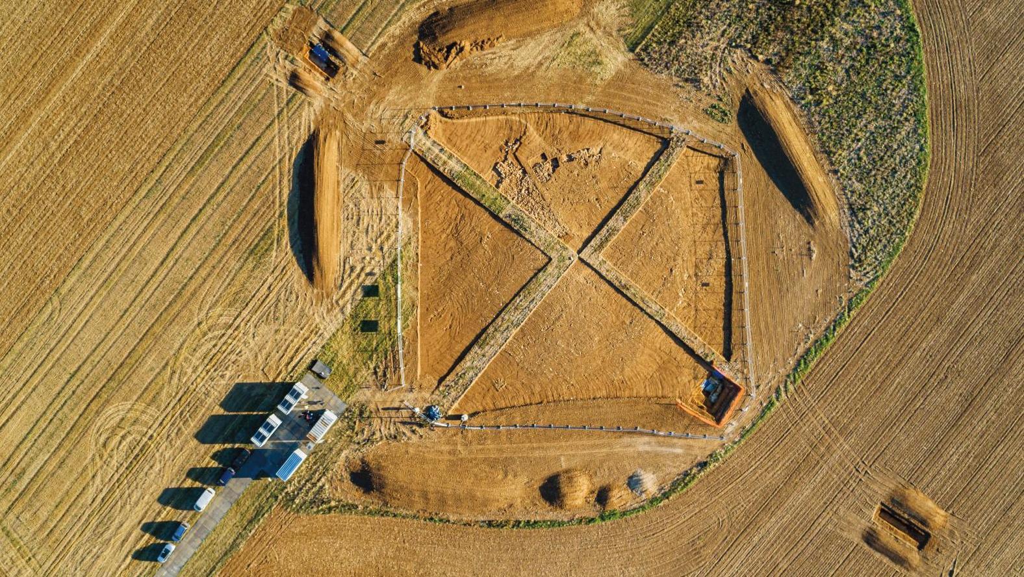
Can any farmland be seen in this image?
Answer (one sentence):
Yes, there's farmland in this view.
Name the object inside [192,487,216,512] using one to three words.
vehicle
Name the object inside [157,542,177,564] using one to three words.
car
